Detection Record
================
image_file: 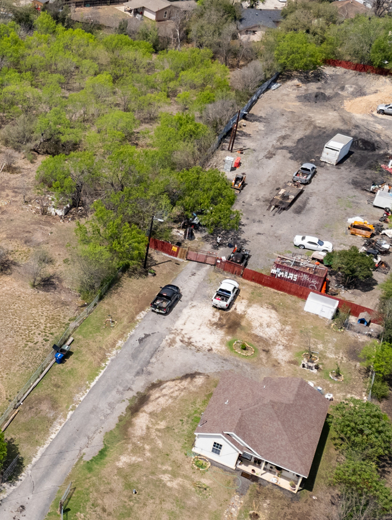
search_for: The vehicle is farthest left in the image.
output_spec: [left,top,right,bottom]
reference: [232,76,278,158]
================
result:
[148,283,180,315]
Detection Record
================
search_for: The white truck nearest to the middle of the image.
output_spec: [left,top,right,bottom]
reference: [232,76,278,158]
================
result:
[212,279,239,310]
